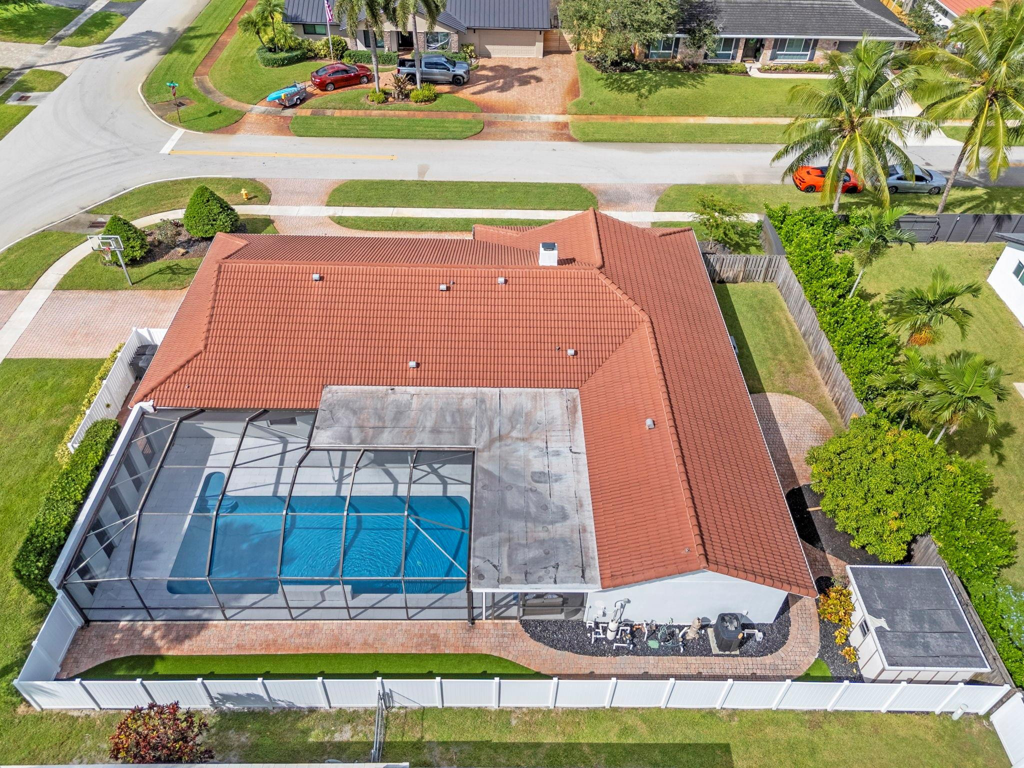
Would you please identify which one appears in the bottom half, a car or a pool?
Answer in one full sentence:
There is a pool in the bottom half.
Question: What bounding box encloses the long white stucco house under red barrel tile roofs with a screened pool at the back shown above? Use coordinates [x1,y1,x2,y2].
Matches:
[125,206,821,623]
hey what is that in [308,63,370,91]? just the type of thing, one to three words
car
